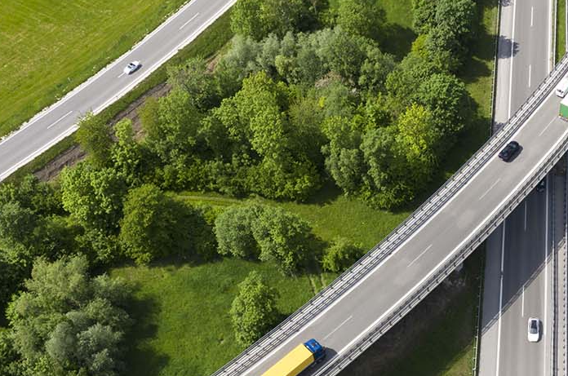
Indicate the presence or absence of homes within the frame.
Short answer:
No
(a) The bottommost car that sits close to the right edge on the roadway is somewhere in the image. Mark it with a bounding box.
[527,316,541,343]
